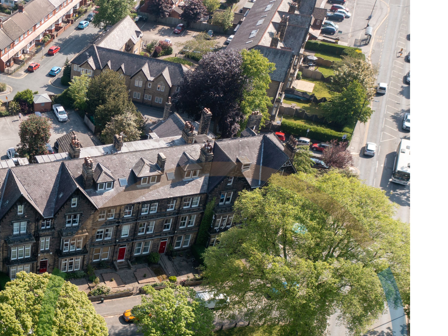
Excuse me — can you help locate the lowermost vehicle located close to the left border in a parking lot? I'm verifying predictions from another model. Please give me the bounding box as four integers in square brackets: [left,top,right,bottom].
[5,148,20,166]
